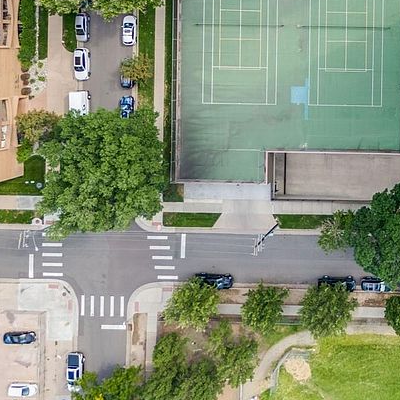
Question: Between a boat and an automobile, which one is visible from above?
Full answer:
It is an automobile that can be seen here.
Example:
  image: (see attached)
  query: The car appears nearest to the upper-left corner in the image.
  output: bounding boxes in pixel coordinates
[74,12,93,43]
